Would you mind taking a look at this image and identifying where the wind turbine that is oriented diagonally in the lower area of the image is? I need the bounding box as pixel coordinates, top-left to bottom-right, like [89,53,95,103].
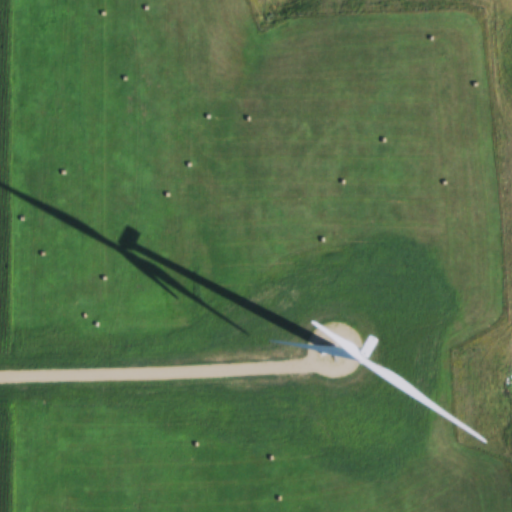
[272,320,486,442]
